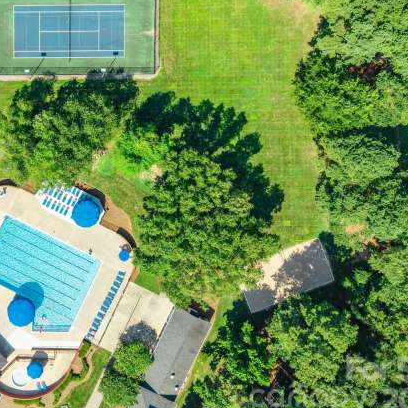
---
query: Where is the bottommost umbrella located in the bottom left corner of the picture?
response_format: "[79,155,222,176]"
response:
[27,360,44,377]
